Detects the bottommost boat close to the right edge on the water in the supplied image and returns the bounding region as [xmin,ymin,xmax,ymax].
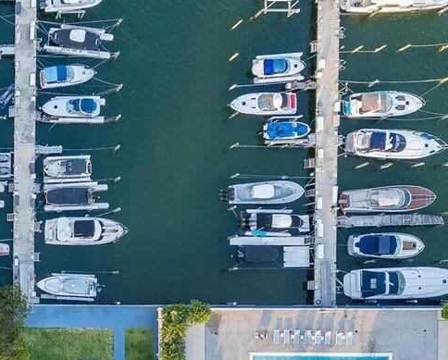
[337,267,448,301]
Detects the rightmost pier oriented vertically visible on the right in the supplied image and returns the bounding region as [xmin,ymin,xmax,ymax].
[311,0,337,304]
